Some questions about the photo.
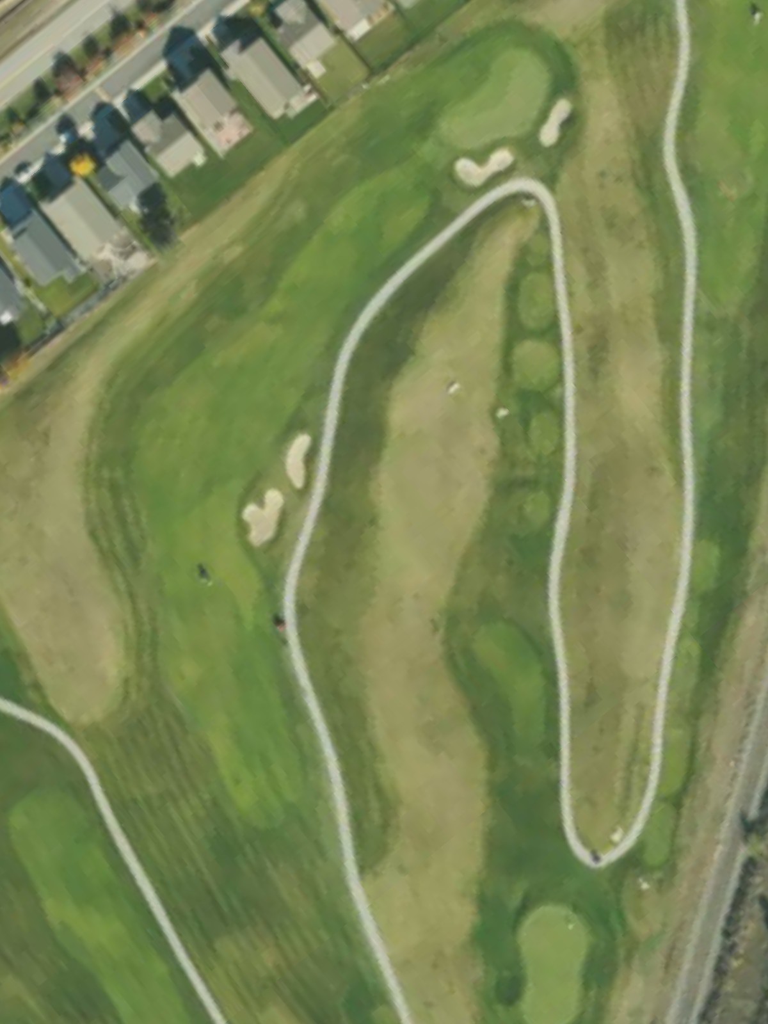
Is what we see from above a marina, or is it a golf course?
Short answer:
golf course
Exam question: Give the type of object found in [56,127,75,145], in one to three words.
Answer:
vehicle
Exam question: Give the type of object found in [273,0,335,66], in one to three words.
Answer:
house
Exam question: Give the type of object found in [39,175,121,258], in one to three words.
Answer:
house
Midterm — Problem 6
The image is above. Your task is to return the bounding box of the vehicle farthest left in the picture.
[17,163,36,180]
